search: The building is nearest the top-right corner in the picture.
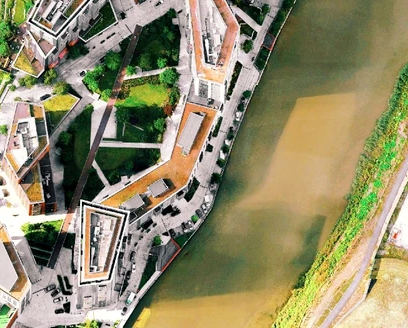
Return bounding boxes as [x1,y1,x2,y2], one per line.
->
[184,0,239,109]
